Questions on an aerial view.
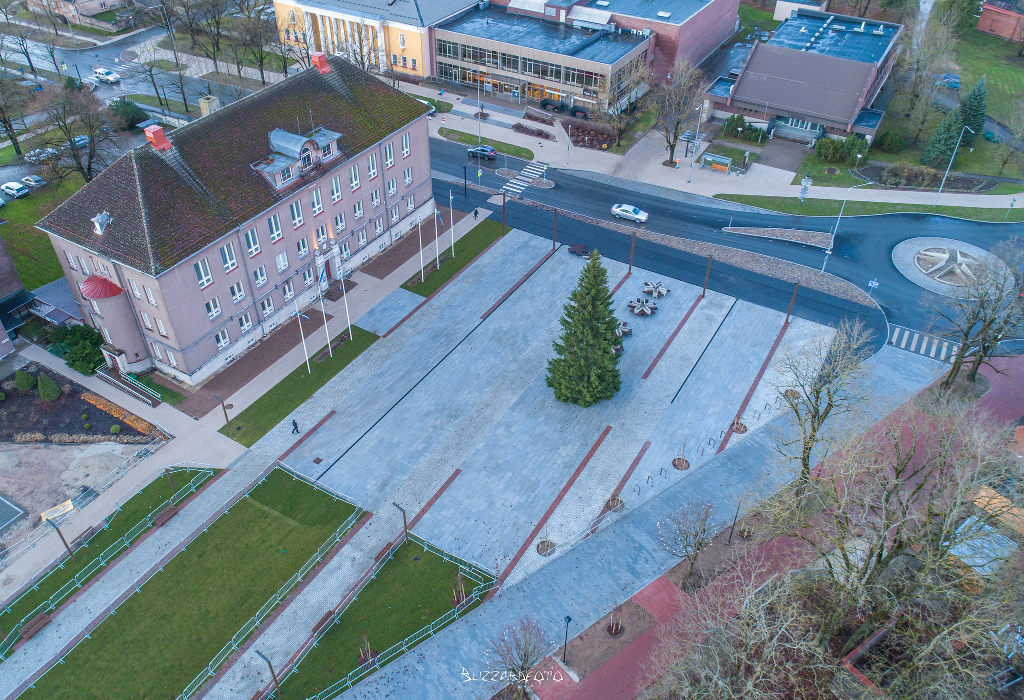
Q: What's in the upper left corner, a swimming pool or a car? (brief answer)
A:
car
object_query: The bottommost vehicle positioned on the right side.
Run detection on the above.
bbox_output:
[612,203,647,221]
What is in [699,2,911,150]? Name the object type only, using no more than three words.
building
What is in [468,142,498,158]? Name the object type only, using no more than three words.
car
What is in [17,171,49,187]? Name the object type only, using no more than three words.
car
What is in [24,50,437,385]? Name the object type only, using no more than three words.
building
